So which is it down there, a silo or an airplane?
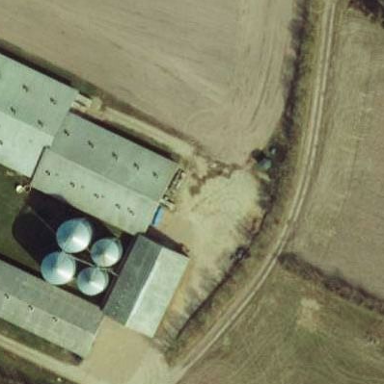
silo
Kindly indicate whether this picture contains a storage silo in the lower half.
Yes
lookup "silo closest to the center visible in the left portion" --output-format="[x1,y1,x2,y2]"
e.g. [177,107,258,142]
[90,237,121,268]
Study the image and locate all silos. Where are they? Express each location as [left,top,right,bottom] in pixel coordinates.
[55,218,91,254]
[39,251,77,287]
[90,237,121,268]
[77,266,108,298]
